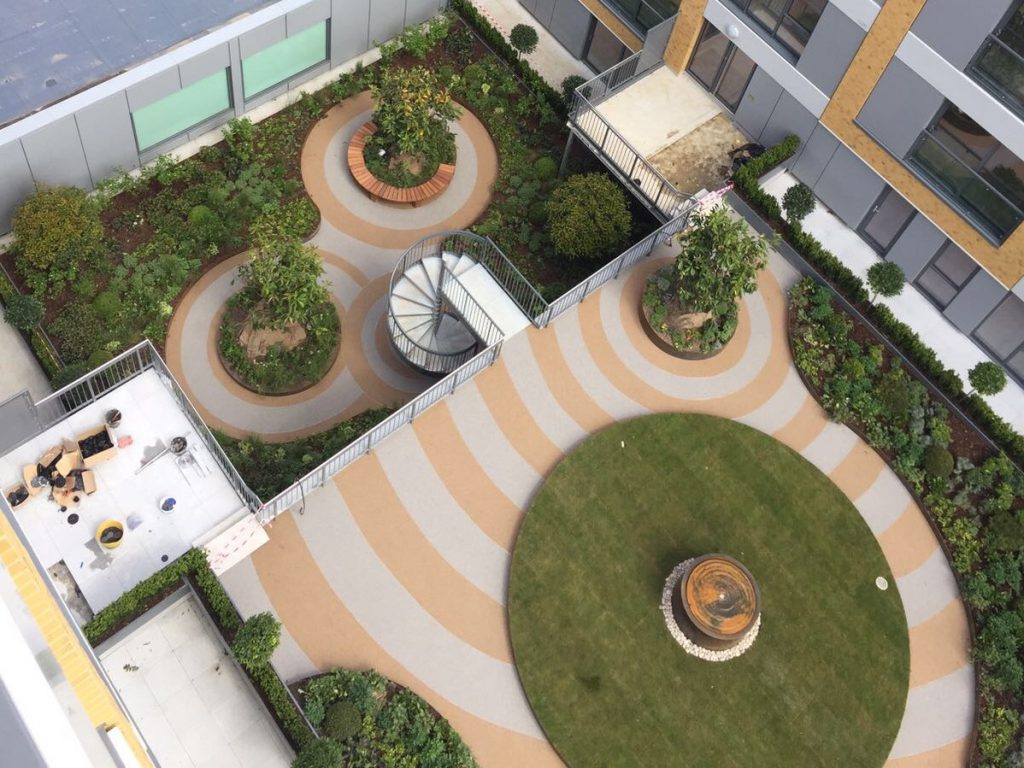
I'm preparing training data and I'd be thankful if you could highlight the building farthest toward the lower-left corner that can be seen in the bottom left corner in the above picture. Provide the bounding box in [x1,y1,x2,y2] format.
[0,492,163,768]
